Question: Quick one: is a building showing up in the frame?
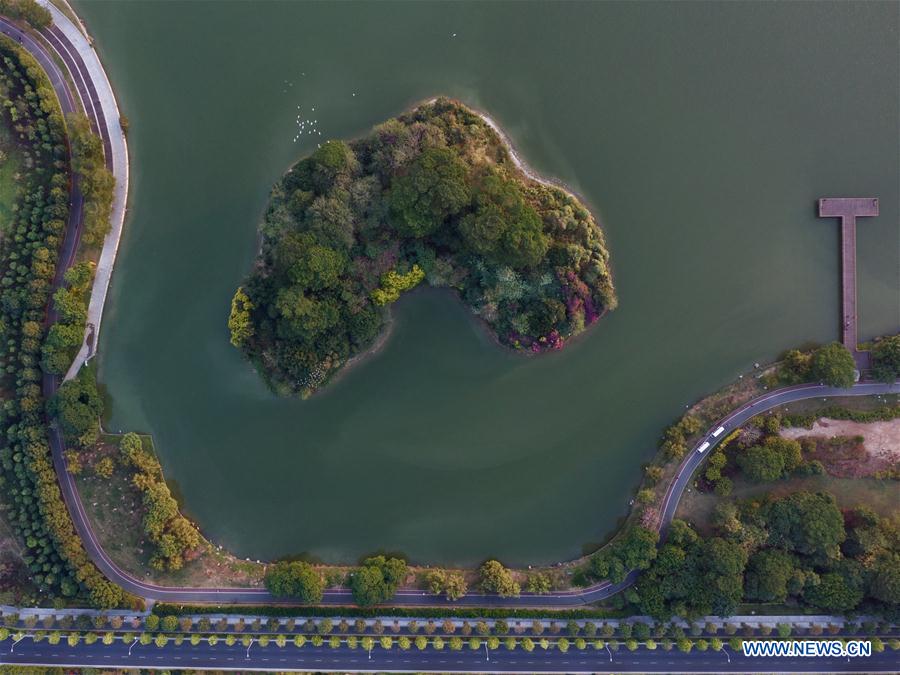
No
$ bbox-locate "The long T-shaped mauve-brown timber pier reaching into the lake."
[819,198,881,383]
